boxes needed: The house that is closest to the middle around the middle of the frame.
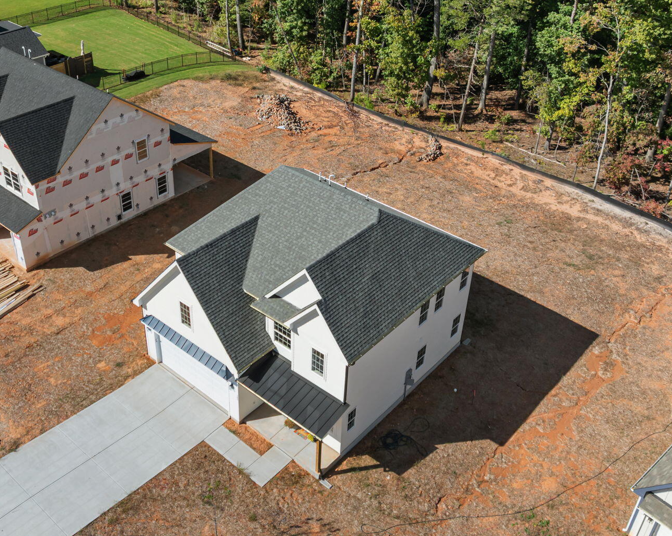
[133,165,492,479]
